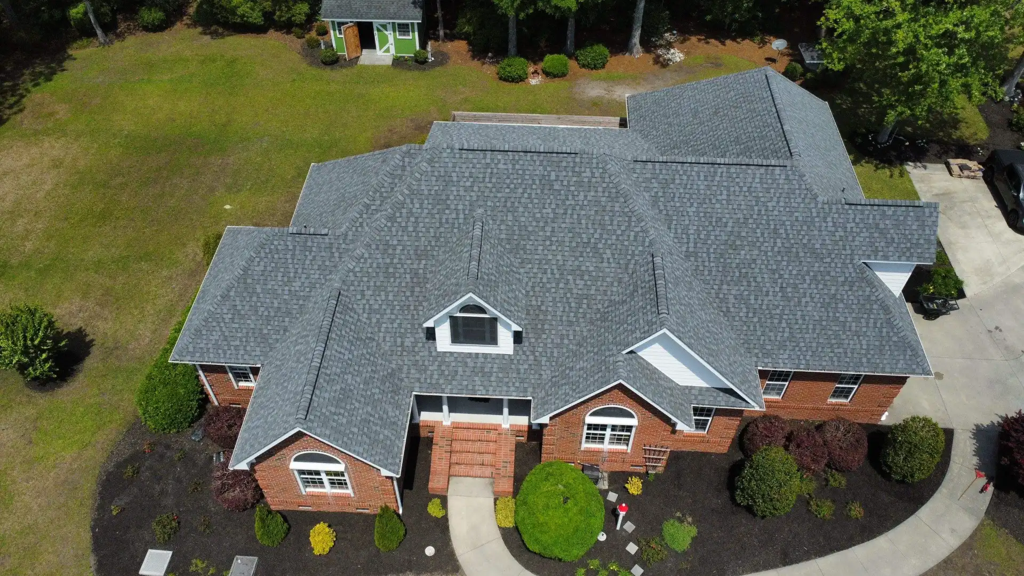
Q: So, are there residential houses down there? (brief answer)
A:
Yes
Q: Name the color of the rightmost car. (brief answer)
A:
black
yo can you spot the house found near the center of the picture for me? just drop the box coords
[169,65,940,525]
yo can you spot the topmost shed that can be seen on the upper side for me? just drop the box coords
[321,0,428,59]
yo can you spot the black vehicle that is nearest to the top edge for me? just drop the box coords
[984,144,1024,228]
